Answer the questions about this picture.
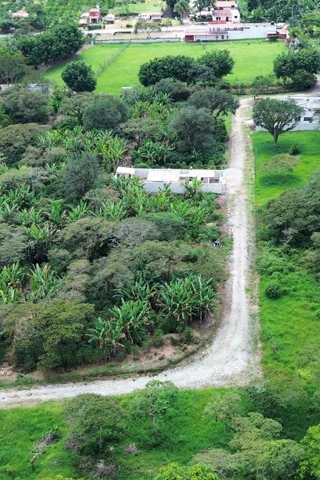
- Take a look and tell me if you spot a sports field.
Yes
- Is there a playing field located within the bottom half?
No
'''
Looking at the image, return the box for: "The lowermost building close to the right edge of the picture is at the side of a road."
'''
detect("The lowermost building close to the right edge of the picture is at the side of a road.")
[266,93,320,122]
